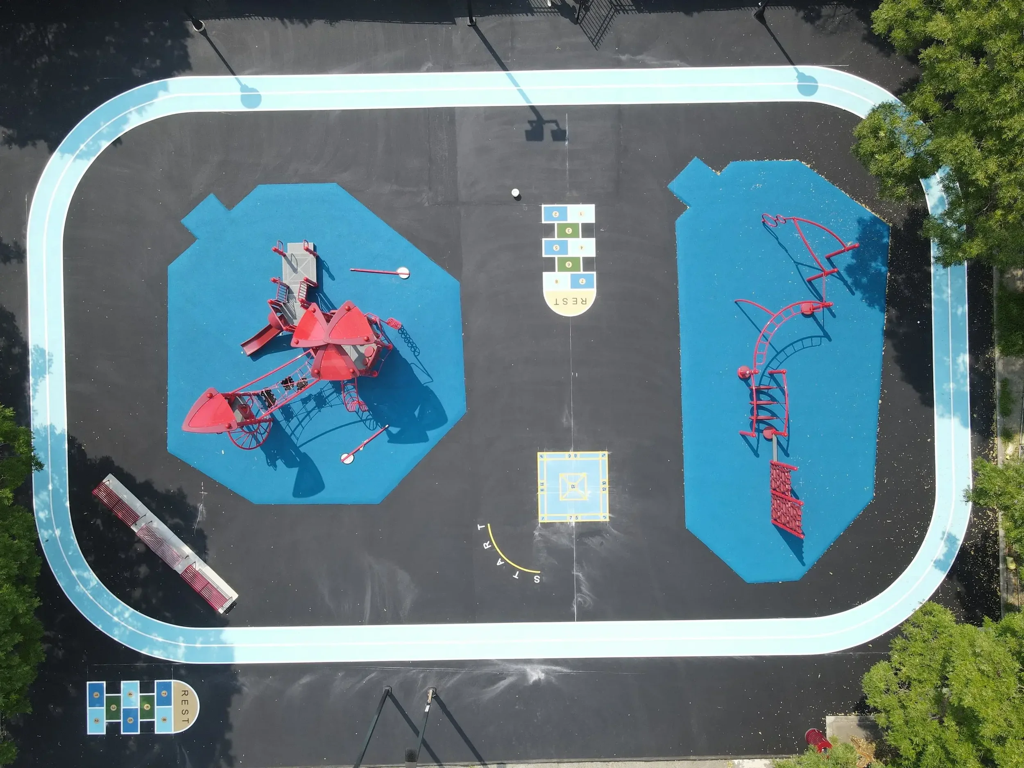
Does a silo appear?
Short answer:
No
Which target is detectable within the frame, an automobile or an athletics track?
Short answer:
athletics track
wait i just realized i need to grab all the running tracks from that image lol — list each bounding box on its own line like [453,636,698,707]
[27,66,973,664]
